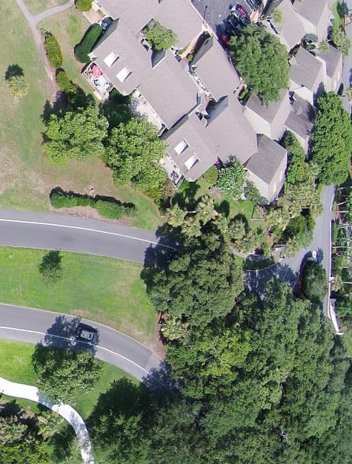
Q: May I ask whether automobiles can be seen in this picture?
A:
Yes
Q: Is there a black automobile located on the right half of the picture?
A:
Yes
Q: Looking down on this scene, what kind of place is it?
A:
residential area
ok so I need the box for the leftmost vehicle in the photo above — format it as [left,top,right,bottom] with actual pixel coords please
[73,326,103,343]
